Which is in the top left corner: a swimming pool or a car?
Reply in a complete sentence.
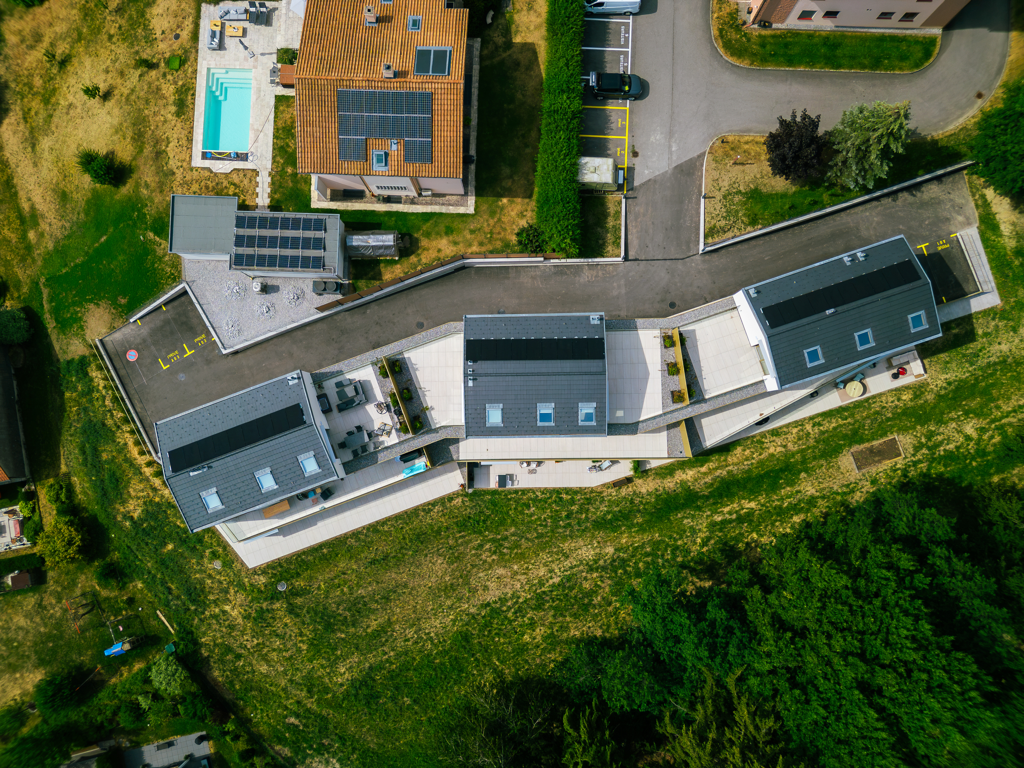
There is a swimming pool in the top left corner.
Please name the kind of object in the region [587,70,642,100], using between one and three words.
car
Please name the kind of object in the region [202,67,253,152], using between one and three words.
swimming pool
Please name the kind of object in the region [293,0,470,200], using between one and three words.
house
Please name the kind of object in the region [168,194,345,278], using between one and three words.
building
